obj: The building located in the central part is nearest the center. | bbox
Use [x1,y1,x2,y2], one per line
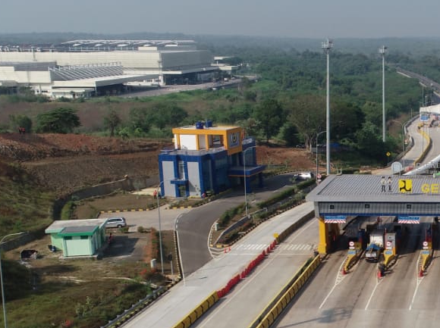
[152,122,264,197]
